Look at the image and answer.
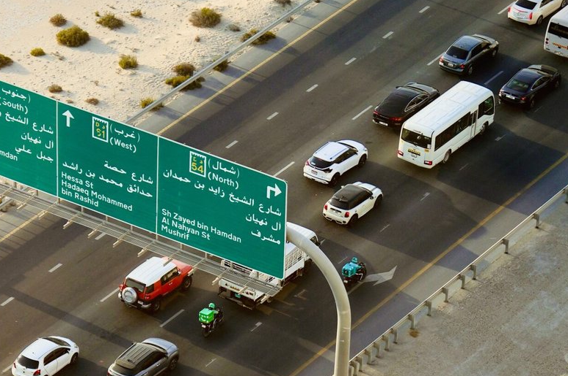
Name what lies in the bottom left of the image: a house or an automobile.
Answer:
automobile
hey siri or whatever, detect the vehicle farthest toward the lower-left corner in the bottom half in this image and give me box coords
[11,335,80,376]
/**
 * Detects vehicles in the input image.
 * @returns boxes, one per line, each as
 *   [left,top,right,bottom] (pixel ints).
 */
[302,139,368,186]
[496,63,562,111]
[199,306,226,336]
[401,78,500,167]
[506,0,565,26]
[323,178,385,223]
[105,338,181,376]
[377,88,440,136]
[544,0,568,58]
[339,258,369,285]
[112,255,196,313]
[11,335,80,376]
[439,33,499,77]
